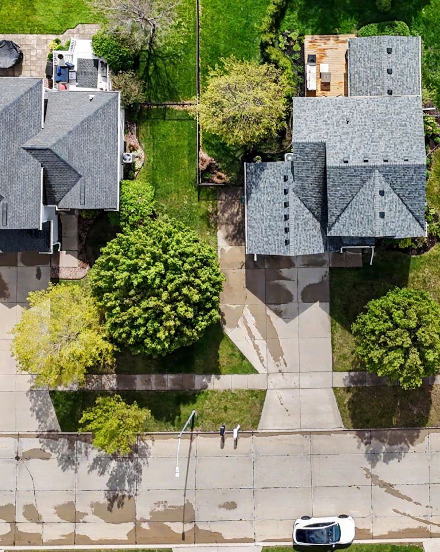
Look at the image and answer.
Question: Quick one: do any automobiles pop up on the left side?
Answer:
No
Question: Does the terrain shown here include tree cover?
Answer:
Yes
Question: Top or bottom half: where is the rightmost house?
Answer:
top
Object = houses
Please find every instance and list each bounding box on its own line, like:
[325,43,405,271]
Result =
[0,77,126,257]
[244,34,427,261]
